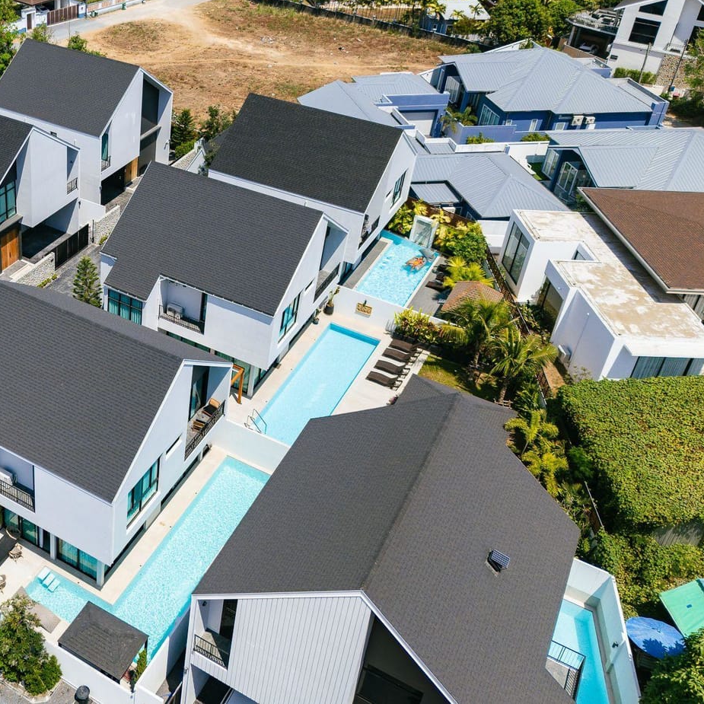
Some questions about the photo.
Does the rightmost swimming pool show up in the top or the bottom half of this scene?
bottom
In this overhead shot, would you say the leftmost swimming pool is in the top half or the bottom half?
bottom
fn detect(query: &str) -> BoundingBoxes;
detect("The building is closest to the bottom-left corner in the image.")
[54,602,153,704]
